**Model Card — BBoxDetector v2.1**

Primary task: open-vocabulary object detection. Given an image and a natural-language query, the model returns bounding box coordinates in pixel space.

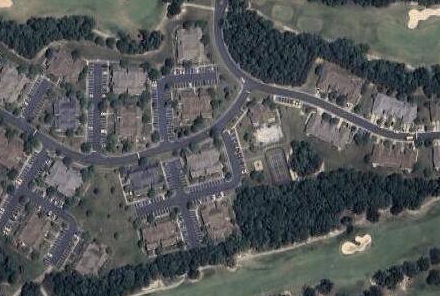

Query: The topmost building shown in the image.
[175,26,205,64]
